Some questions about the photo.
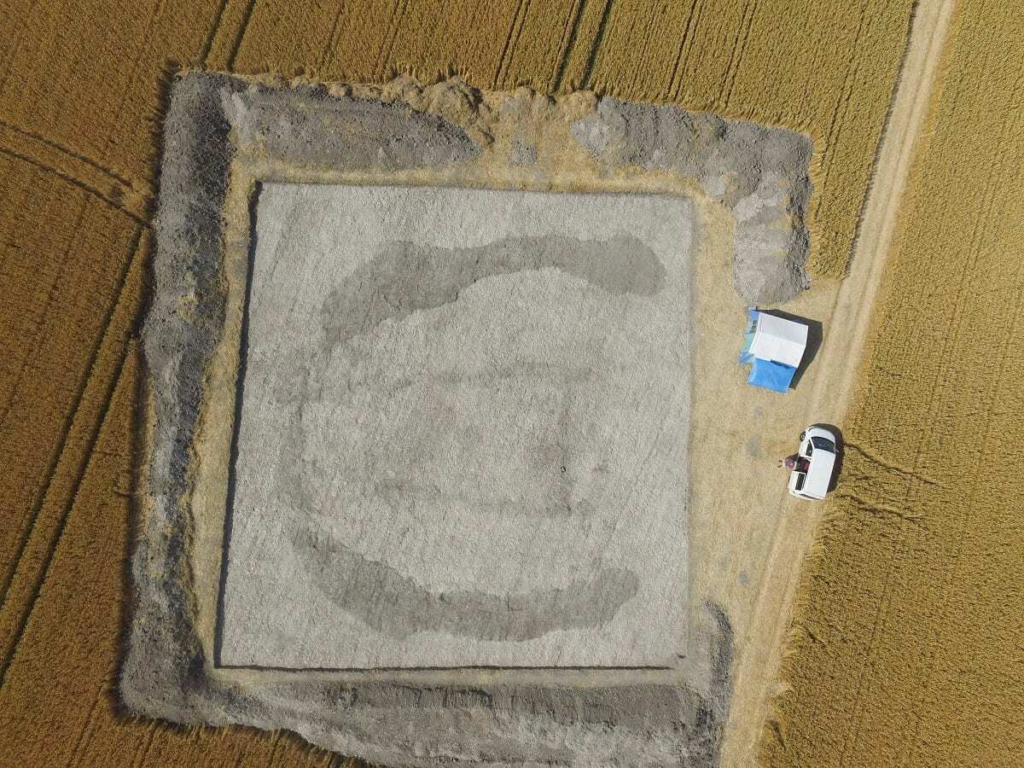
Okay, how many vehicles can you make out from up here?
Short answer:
1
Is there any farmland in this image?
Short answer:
Yes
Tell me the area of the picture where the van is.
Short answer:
right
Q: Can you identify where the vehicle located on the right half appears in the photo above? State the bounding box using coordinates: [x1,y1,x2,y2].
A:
[789,423,837,502]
